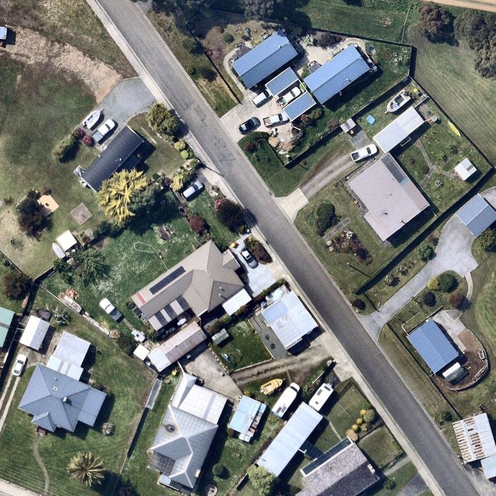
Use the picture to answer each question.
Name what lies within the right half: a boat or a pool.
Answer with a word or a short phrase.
boat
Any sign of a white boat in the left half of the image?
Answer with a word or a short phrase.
Yes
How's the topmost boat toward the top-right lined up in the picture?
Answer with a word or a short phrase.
diagonally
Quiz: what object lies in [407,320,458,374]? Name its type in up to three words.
shed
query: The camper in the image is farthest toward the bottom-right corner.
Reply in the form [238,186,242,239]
[309,381,333,410]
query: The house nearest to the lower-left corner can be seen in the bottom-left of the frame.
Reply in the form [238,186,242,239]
[17,364,106,432]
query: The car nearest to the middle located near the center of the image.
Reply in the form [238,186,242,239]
[239,246,259,270]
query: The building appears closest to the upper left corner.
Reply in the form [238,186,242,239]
[81,126,143,192]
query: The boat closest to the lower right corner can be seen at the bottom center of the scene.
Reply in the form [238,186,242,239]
[261,380,283,396]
